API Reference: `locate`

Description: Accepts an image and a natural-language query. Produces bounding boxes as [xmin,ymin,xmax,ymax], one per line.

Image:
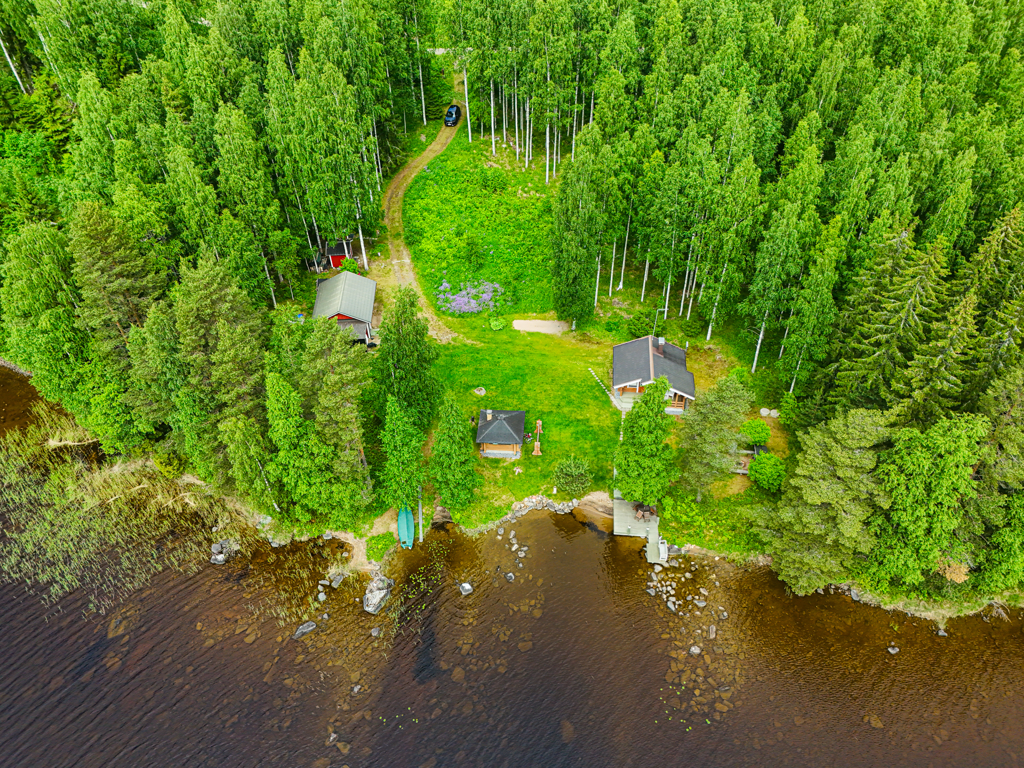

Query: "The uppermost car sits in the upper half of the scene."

[444,107,460,128]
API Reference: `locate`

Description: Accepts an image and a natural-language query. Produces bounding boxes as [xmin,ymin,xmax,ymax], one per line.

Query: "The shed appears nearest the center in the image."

[476,407,525,460]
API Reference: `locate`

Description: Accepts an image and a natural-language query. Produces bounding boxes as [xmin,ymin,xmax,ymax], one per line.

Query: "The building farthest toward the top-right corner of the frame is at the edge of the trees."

[612,336,696,417]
